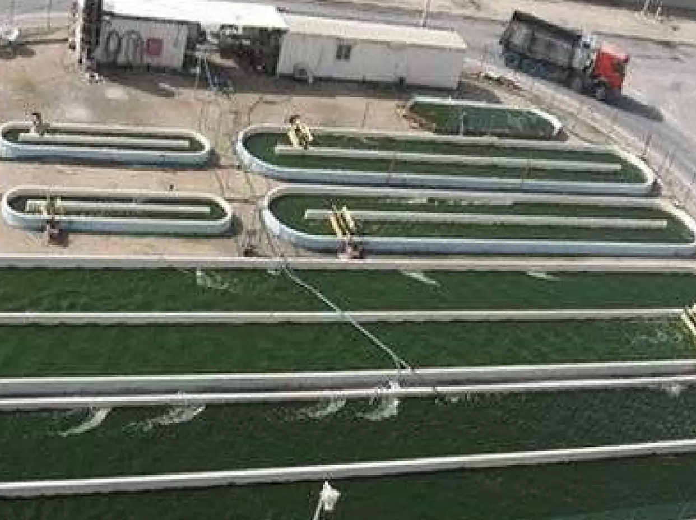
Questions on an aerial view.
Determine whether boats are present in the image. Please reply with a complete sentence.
No, the picture doesn't show any boat.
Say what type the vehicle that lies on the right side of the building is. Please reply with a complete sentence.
Specifically, the vehicle that lies on the right side of the building is a truck.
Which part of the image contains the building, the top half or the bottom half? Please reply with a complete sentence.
Seen from above, the building lies in the top half of the view.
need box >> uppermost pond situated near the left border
[0,121,211,166]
